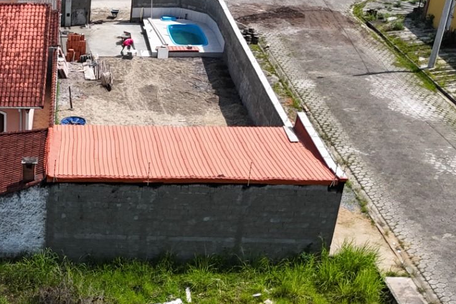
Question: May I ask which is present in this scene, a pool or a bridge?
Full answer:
The one in the frame is a pool.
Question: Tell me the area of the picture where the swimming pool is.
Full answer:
Look in the top portion of the view to spot the swimming pool.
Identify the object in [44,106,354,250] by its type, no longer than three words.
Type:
shed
